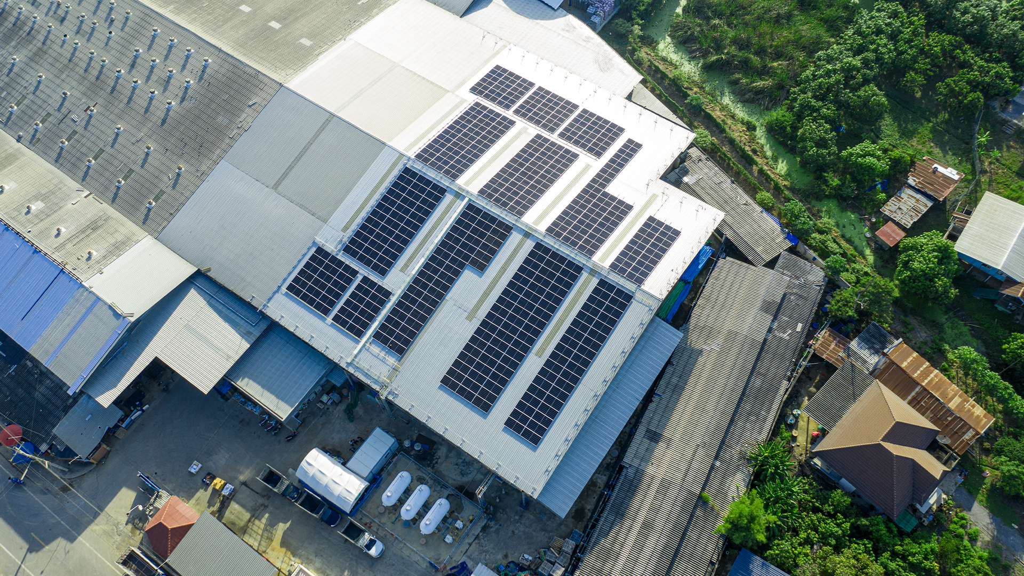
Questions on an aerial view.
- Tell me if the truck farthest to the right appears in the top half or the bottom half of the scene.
bottom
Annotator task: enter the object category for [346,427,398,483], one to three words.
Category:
building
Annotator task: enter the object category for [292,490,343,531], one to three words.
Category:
truck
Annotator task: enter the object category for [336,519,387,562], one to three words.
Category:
truck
